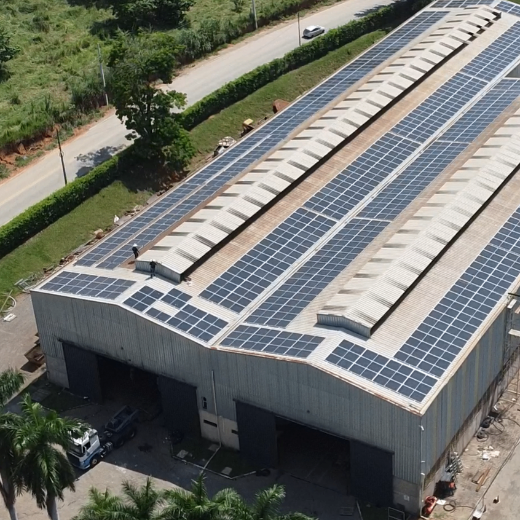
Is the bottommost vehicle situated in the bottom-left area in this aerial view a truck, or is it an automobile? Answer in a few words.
truck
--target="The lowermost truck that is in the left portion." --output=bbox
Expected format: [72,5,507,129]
[67,404,152,475]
